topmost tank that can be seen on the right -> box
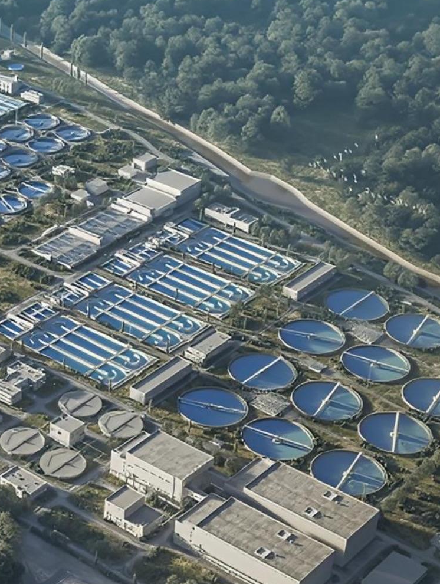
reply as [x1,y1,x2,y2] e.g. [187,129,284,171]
[324,288,389,322]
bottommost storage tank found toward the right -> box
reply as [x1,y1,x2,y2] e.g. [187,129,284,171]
[311,451,387,497]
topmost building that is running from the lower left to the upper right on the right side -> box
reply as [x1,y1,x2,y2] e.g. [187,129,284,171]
[282,261,336,301]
